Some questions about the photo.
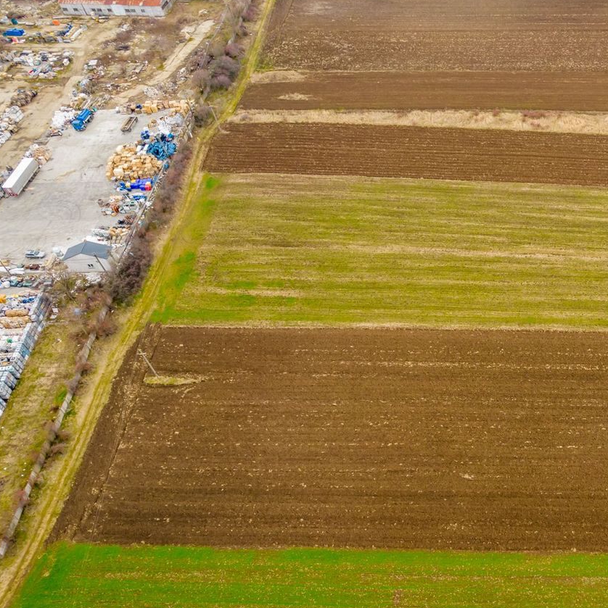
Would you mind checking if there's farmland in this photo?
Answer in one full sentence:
Yes, some farmland is visible.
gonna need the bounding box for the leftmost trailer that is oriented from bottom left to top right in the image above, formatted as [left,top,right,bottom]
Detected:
[2,157,40,199]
